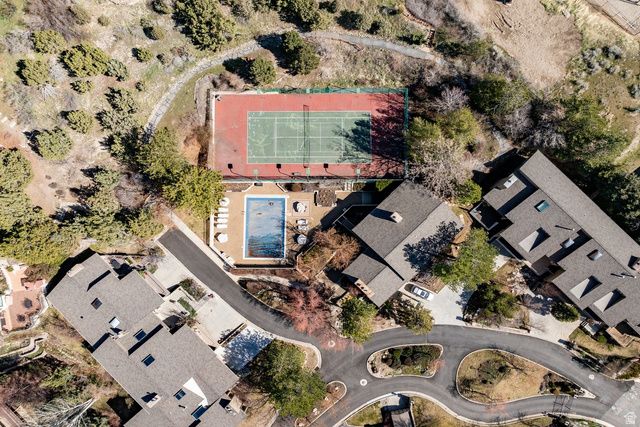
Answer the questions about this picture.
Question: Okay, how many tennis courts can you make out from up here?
one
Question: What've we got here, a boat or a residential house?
residential house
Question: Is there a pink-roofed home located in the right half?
No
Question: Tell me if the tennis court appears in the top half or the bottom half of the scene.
top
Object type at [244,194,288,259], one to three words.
swimming pool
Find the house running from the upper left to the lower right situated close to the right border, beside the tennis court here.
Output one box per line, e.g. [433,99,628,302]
[478,150,640,336]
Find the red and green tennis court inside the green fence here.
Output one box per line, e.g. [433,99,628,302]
[212,93,406,181]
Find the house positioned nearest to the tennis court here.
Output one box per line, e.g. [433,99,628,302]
[342,178,464,308]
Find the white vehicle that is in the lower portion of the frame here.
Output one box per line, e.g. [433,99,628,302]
[412,284,436,303]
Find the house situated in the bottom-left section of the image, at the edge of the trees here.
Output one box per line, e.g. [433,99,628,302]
[47,253,248,427]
